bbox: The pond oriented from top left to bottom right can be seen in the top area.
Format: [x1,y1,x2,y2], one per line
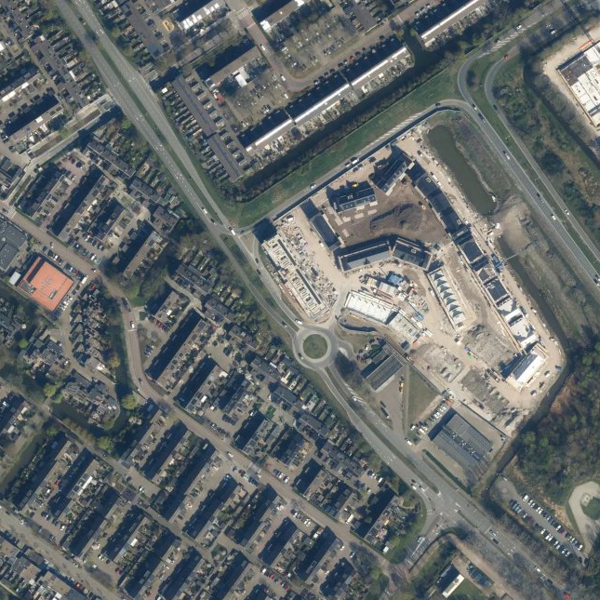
[428,126,498,215]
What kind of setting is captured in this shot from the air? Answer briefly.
residential area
